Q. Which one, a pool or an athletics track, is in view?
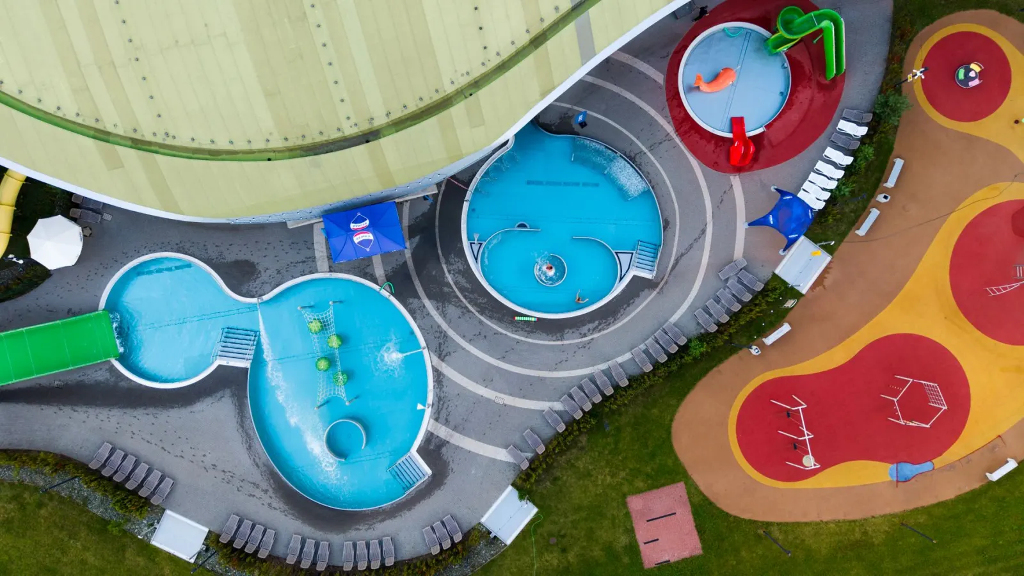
pool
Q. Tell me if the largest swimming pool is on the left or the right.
left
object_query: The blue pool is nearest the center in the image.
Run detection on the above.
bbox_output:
[461,117,664,319]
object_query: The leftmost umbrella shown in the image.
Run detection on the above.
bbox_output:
[27,215,85,270]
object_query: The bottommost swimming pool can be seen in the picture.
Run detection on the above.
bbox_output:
[100,252,434,511]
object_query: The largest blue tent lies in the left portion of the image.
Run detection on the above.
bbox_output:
[323,201,412,265]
